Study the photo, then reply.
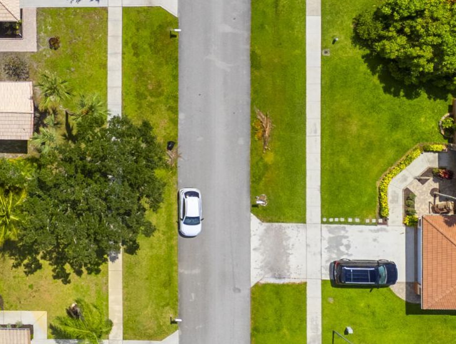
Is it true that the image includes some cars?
Yes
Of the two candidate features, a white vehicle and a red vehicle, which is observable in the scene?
white vehicle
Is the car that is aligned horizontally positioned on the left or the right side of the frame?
right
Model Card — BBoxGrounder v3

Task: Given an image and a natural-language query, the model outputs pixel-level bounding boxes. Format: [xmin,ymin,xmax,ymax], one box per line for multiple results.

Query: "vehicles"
[178,188,205,238]
[329,261,397,290]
